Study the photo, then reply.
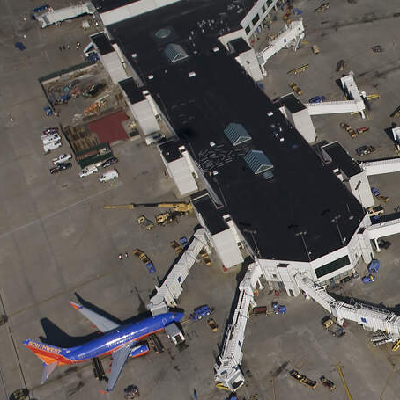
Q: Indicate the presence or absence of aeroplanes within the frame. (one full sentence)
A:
Yes, there is an aeroplane in the image.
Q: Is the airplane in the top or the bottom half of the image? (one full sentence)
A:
It is in the bottom half that the airplane appears.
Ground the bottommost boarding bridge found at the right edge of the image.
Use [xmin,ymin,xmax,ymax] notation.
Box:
[290,271,400,347]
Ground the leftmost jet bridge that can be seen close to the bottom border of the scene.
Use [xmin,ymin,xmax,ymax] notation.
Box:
[222,261,263,389]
